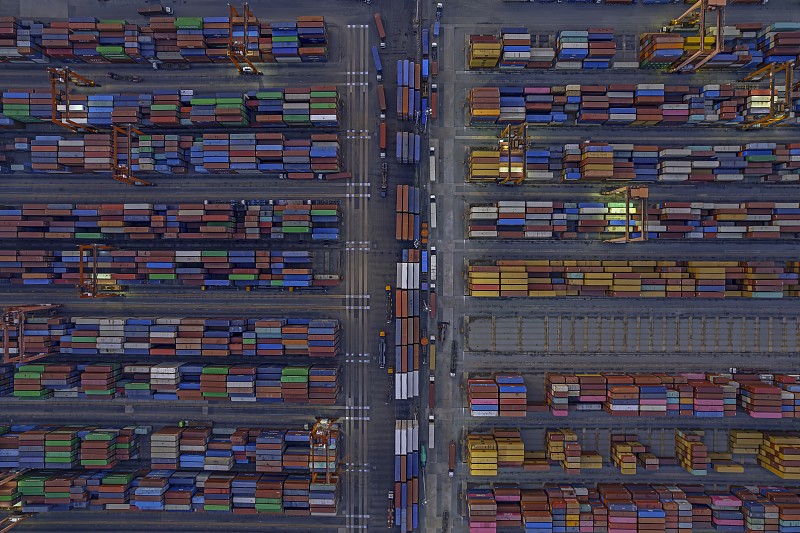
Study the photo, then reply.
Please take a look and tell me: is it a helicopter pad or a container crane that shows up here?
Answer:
container crane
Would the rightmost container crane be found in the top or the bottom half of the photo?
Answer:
top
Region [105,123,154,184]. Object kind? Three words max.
container crane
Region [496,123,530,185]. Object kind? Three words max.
container crane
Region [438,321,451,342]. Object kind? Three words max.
vehicle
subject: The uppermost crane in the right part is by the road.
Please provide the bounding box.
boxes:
[673,0,726,73]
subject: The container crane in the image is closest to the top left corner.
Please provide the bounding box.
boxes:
[43,63,98,131]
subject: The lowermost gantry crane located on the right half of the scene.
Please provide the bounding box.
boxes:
[605,187,650,246]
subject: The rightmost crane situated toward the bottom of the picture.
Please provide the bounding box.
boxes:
[309,417,339,486]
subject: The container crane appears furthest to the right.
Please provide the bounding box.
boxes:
[738,65,796,132]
